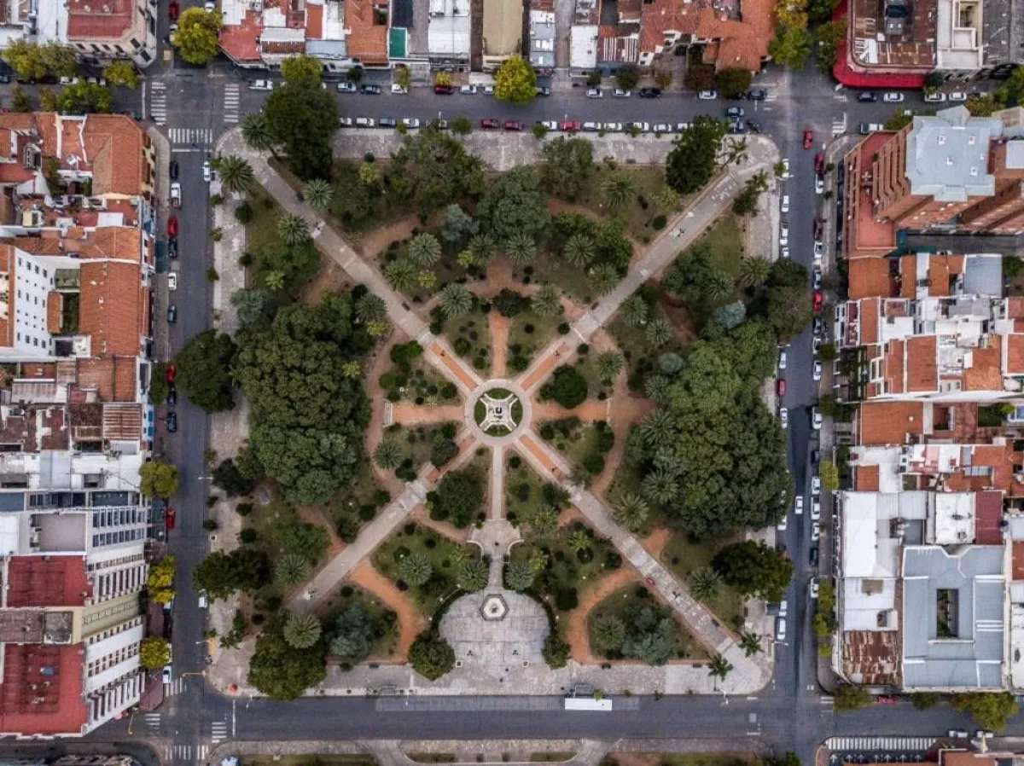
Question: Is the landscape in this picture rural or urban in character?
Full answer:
The area is urban.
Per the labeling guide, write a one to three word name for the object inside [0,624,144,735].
building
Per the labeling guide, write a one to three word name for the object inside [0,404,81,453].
house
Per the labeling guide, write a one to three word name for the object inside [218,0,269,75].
house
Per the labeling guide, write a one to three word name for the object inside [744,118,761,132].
car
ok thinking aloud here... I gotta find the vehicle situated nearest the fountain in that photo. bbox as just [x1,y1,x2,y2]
[564,694,613,708]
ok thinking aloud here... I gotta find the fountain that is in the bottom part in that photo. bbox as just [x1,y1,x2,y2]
[480,596,507,619]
